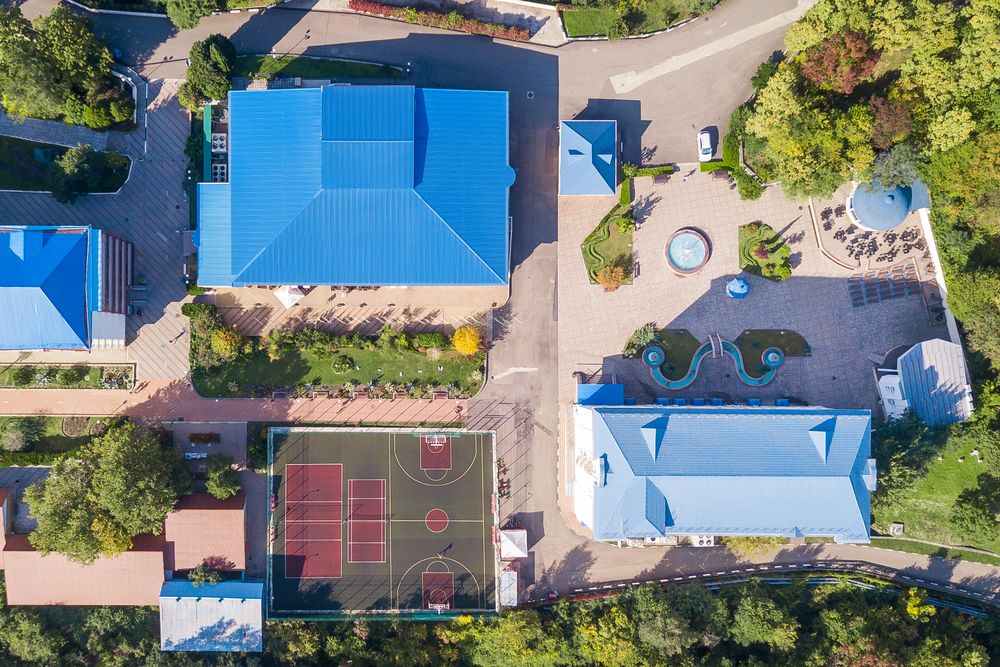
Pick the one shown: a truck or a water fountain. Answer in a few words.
water fountain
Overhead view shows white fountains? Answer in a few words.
Yes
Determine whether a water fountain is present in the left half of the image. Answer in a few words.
No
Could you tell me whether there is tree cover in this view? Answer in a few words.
Yes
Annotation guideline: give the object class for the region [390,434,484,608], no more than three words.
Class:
basketball court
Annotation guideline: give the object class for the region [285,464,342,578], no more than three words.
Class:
sports court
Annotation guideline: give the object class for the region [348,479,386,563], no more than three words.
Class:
sports court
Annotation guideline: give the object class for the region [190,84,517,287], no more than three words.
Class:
building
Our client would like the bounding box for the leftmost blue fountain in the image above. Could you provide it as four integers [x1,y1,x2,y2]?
[642,346,665,368]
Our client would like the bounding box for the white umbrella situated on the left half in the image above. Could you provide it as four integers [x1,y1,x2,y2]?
[273,287,305,309]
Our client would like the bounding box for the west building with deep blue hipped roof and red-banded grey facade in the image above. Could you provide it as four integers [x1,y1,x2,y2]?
[0,226,133,362]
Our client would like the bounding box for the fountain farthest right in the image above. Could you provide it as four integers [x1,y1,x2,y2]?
[762,347,785,369]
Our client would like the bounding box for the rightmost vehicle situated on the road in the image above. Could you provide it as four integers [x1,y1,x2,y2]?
[698,131,714,160]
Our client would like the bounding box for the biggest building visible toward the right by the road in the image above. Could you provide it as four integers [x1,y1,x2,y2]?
[573,370,875,545]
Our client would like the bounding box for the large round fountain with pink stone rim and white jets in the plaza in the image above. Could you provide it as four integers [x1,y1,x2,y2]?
[664,226,714,275]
